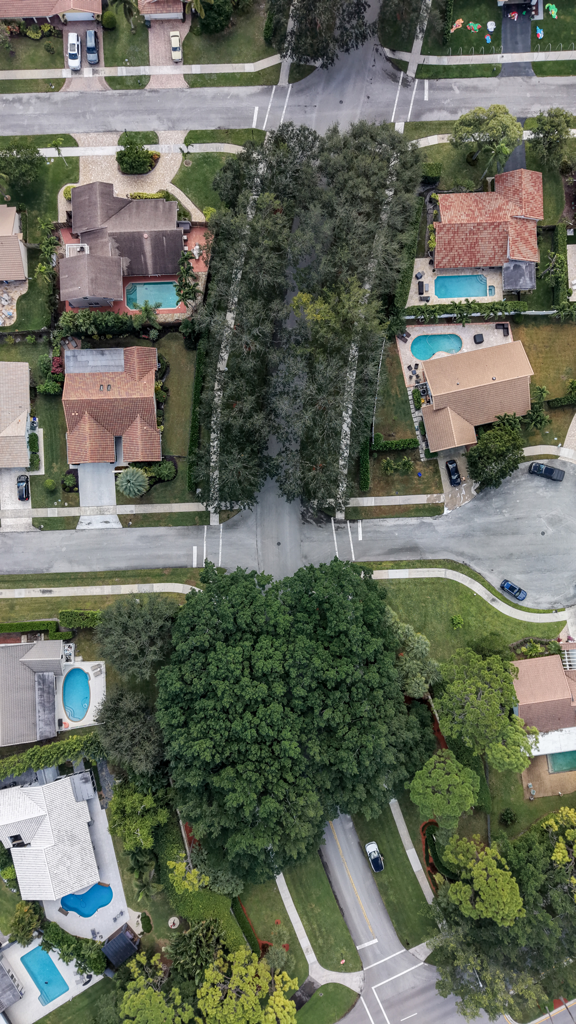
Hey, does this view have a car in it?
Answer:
Yes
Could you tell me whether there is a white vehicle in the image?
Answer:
Yes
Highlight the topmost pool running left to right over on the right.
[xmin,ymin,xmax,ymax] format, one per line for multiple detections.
[433,273,488,299]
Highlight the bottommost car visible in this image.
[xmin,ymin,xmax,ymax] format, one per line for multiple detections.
[365,839,384,876]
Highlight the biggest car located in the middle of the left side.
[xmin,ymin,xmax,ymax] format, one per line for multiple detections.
[15,474,31,501]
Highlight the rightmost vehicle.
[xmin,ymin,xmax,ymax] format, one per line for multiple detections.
[527,462,566,482]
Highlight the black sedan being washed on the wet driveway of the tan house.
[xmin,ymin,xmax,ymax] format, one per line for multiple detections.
[445,458,462,488]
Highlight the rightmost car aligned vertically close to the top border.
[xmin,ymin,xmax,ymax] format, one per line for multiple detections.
[169,31,183,63]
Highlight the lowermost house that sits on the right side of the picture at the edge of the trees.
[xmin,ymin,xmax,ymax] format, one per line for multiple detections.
[508,640,576,761]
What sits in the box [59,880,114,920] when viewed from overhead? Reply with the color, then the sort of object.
blue swimming pool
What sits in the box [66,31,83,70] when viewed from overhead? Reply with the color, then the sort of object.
white car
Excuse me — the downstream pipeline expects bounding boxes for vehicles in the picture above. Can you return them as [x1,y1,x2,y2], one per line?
[15,474,31,501]
[169,31,183,63]
[527,462,566,482]
[445,458,462,488]
[66,31,83,70]
[84,28,100,64]
[497,578,529,602]
[365,839,384,876]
